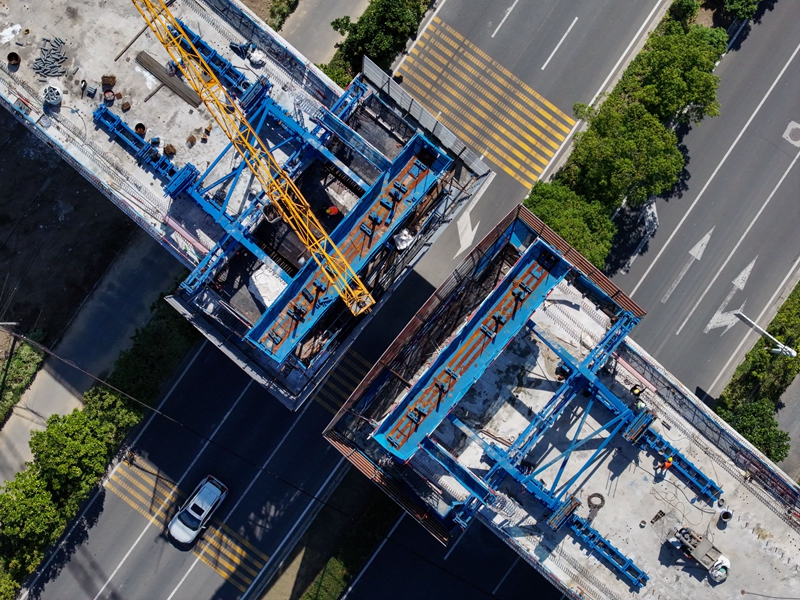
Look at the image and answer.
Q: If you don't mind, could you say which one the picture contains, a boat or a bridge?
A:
bridge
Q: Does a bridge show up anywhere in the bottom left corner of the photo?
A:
No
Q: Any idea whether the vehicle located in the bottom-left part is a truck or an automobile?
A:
automobile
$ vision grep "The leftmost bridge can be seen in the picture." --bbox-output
[0,0,357,278]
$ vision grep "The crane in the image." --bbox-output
[127,0,379,320]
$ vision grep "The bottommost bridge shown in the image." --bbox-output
[410,287,800,600]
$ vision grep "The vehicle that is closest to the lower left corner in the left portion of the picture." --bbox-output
[168,472,230,552]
